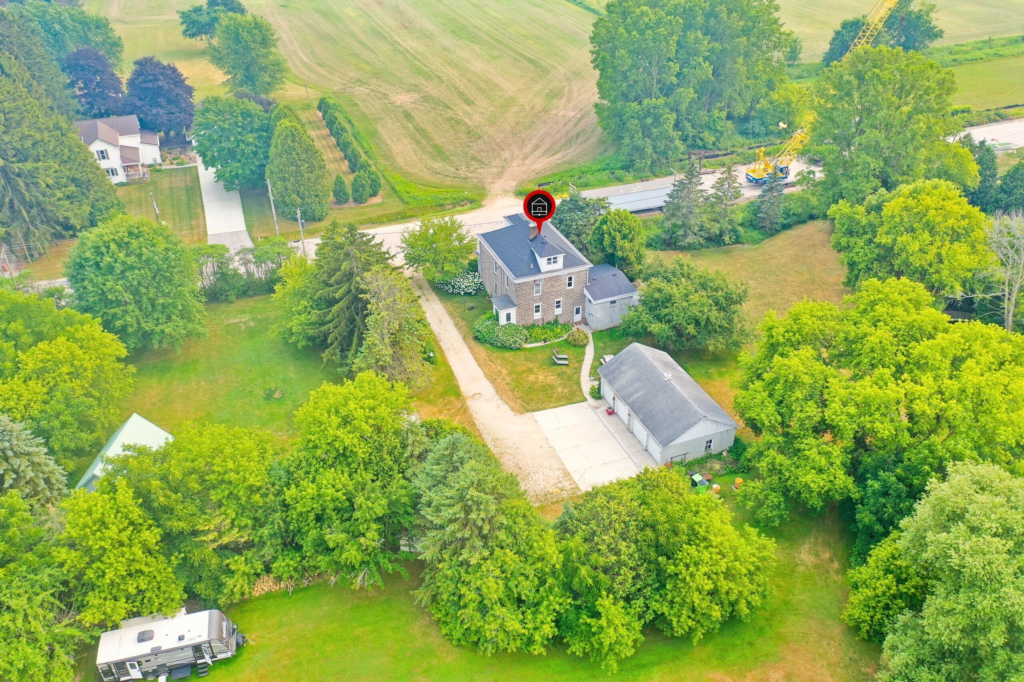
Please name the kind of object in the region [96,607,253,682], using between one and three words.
trailer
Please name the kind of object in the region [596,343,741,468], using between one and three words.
building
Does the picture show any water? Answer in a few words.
No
